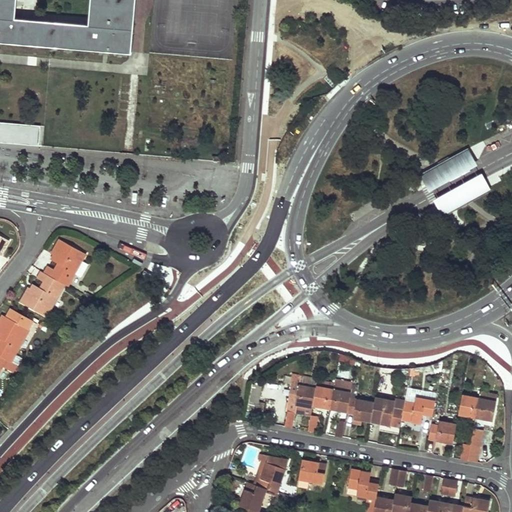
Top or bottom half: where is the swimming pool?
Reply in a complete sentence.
You can find the swimming pool in the bottom half.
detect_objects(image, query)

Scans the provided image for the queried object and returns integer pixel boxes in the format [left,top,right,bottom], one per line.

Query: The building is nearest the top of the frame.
[0,0,135,54]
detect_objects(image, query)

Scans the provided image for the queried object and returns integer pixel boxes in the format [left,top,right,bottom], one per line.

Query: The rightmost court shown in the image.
[149,0,236,60]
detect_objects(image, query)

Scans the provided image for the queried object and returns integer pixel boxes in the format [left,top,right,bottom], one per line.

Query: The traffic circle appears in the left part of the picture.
[150,190,245,270]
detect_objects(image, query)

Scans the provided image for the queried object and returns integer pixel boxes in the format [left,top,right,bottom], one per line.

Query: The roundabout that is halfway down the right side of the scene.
[276,30,512,426]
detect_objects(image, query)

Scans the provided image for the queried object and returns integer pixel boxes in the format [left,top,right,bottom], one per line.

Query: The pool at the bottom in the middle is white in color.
[242,444,261,476]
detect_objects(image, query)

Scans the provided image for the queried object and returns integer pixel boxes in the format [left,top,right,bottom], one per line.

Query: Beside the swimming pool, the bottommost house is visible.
[238,484,266,512]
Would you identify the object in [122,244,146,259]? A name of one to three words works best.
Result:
vehicle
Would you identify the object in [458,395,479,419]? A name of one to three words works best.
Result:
house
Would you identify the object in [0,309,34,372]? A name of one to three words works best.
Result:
house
